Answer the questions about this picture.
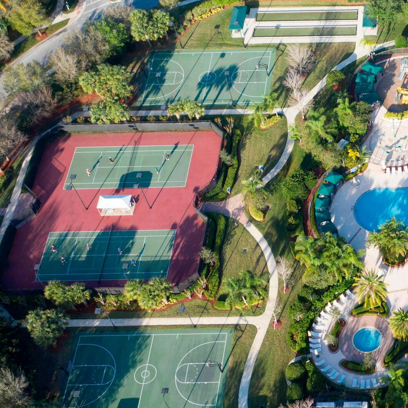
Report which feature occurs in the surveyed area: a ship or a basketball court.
basketball court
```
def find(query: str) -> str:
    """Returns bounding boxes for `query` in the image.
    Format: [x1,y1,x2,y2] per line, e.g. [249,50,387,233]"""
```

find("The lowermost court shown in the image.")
[55,328,233,408]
